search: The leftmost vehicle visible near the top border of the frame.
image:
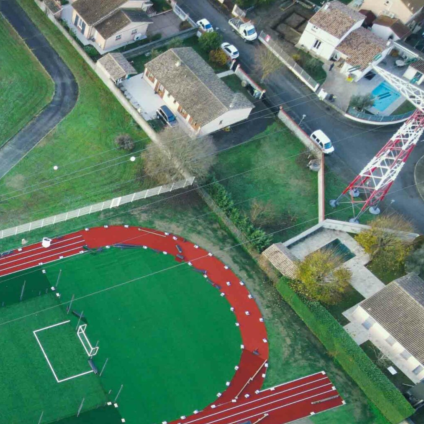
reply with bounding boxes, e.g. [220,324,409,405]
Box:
[193,14,216,34]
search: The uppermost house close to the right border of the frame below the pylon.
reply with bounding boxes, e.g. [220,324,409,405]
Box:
[352,273,424,384]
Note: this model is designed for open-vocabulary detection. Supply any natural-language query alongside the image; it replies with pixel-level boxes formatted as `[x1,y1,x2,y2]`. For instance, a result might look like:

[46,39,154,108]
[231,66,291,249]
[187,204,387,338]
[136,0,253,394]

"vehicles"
[193,14,216,34]
[226,18,259,40]
[307,125,338,155]
[218,41,243,61]
[156,101,179,127]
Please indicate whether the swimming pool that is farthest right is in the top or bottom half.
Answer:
top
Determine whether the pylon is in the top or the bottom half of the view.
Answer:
top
